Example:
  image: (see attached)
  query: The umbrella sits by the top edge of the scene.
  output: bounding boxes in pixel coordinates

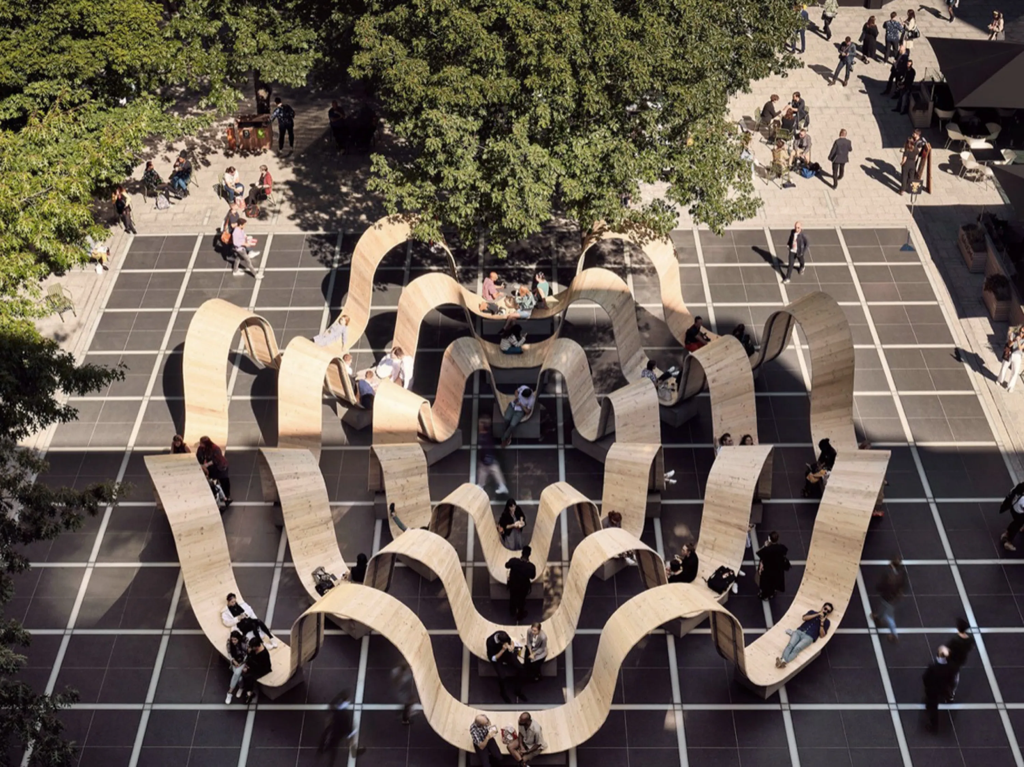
[922,34,1024,150]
